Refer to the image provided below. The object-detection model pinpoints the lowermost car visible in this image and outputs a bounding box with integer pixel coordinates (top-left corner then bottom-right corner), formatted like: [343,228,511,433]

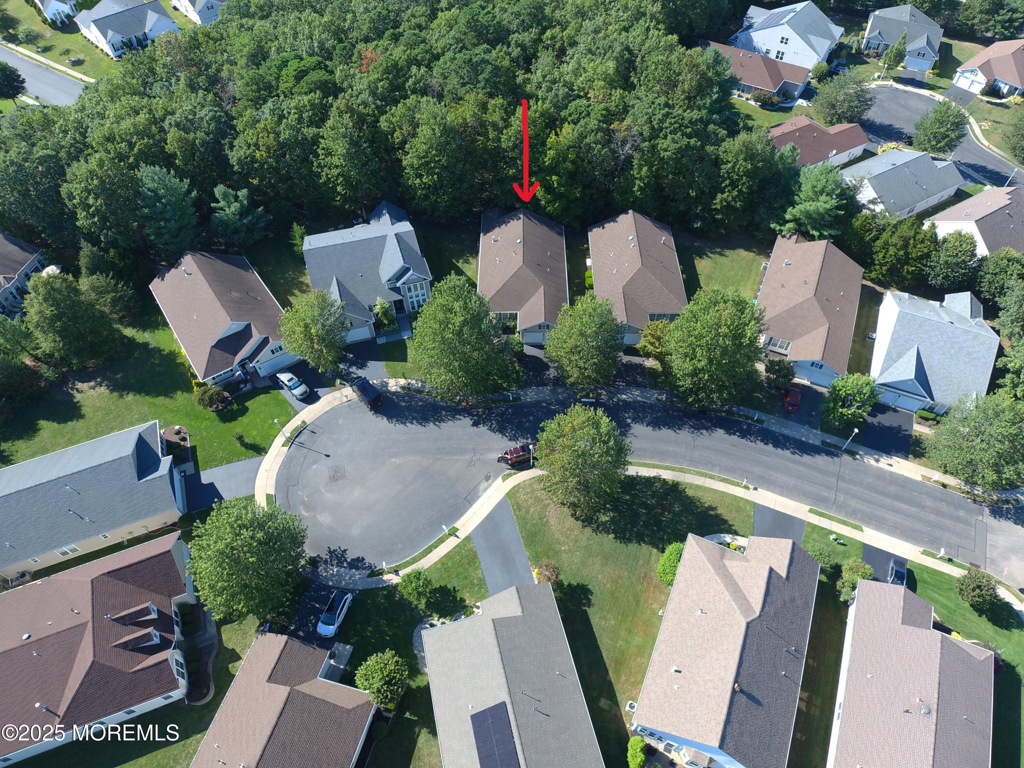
[317,588,352,637]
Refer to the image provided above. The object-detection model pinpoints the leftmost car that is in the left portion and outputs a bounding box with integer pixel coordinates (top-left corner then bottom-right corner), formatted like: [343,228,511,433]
[277,370,308,399]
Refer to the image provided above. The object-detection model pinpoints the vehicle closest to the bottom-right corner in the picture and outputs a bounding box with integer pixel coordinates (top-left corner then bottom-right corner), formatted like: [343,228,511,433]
[886,553,911,588]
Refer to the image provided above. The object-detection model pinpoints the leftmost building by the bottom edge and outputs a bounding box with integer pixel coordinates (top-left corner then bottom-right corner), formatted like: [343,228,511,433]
[0,532,193,768]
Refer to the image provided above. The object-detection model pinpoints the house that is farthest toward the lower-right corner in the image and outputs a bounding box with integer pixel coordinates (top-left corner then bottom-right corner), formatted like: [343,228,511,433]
[826,579,995,768]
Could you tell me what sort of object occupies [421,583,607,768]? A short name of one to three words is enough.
house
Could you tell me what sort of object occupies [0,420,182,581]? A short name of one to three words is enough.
house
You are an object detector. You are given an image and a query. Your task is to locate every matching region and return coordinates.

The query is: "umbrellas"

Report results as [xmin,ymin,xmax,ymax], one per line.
[44,265,64,282]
